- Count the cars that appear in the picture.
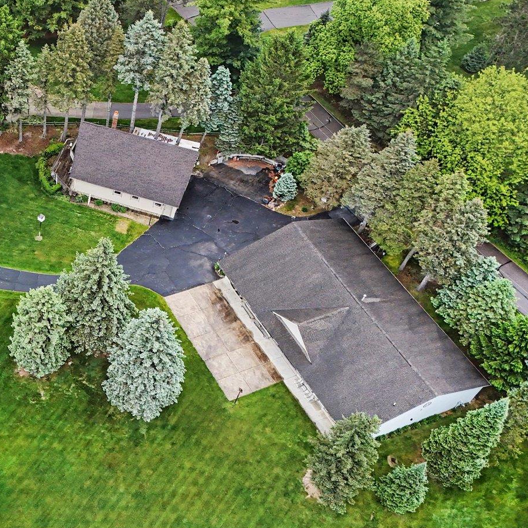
0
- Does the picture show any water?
No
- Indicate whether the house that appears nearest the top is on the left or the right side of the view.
left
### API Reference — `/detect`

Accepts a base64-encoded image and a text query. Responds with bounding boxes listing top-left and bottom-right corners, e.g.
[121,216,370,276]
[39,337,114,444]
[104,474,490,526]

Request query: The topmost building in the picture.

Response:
[70,99,198,222]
